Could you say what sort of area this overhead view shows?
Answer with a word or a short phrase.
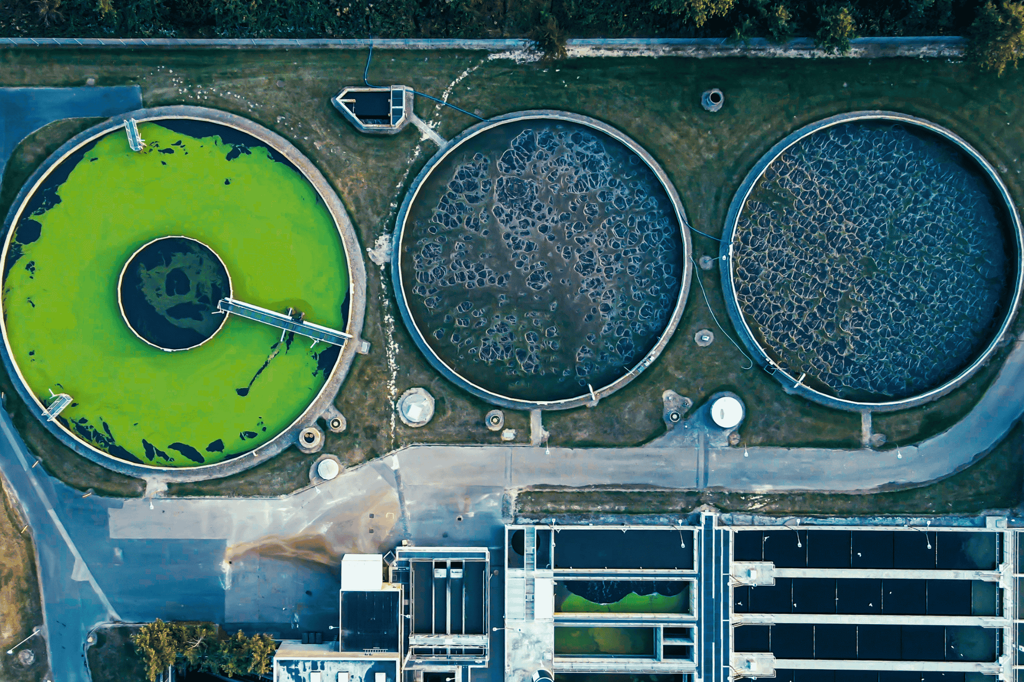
industrial area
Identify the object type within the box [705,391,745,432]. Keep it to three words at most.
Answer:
storage tank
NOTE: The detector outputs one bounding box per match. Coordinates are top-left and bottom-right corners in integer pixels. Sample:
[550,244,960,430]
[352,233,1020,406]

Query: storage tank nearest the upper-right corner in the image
[720,108,1024,412]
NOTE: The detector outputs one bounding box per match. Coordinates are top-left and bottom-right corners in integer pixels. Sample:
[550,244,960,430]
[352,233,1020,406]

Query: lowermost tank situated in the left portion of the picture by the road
[309,454,345,485]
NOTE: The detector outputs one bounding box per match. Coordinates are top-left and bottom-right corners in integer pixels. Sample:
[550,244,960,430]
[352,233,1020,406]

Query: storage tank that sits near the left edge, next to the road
[0,106,367,479]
